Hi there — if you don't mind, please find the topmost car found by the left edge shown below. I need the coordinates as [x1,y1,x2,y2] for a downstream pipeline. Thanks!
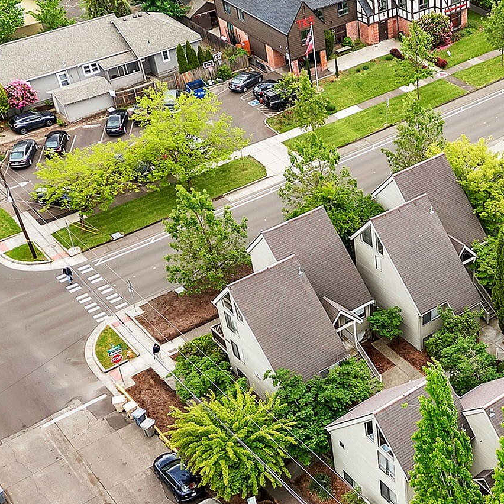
[7,110,56,135]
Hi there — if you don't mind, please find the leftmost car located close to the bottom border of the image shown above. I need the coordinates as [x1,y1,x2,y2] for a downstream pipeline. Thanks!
[151,454,203,504]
